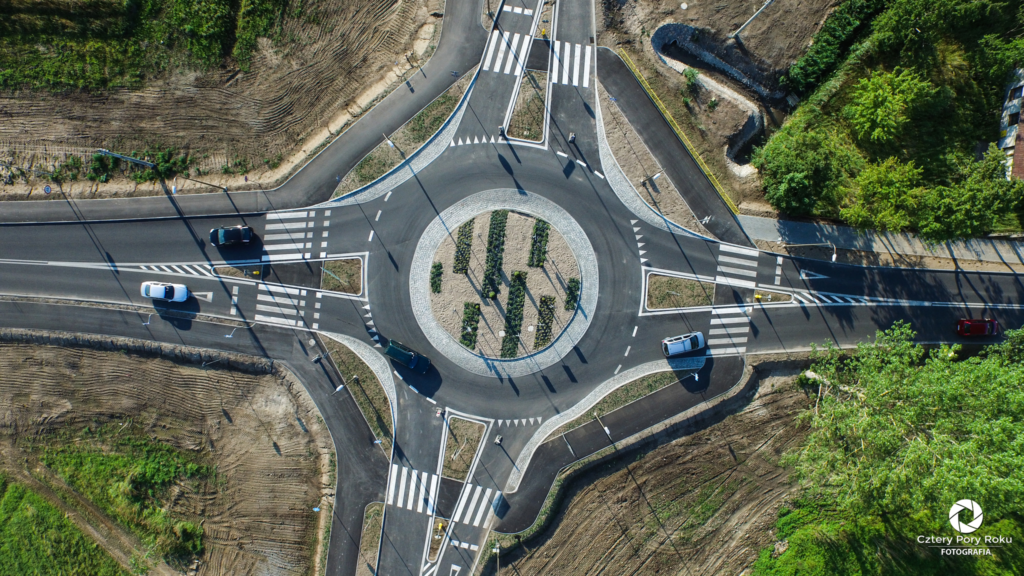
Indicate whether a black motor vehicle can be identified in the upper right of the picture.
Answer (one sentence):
No, there's no black motor vehicle to be seen in the upper right of the picture.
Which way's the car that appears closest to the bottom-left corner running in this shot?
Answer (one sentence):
The car that appears closest to the bottom-left corner is laid out from side to side.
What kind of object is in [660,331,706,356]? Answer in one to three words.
car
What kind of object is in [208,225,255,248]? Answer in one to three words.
car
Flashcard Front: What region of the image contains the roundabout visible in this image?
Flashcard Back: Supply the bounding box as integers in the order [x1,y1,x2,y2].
[305,70,721,494]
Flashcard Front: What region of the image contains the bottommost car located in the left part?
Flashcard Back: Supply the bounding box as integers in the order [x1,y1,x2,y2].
[384,338,435,373]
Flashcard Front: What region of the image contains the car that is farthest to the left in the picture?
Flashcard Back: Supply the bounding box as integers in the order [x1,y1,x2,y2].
[139,280,192,304]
